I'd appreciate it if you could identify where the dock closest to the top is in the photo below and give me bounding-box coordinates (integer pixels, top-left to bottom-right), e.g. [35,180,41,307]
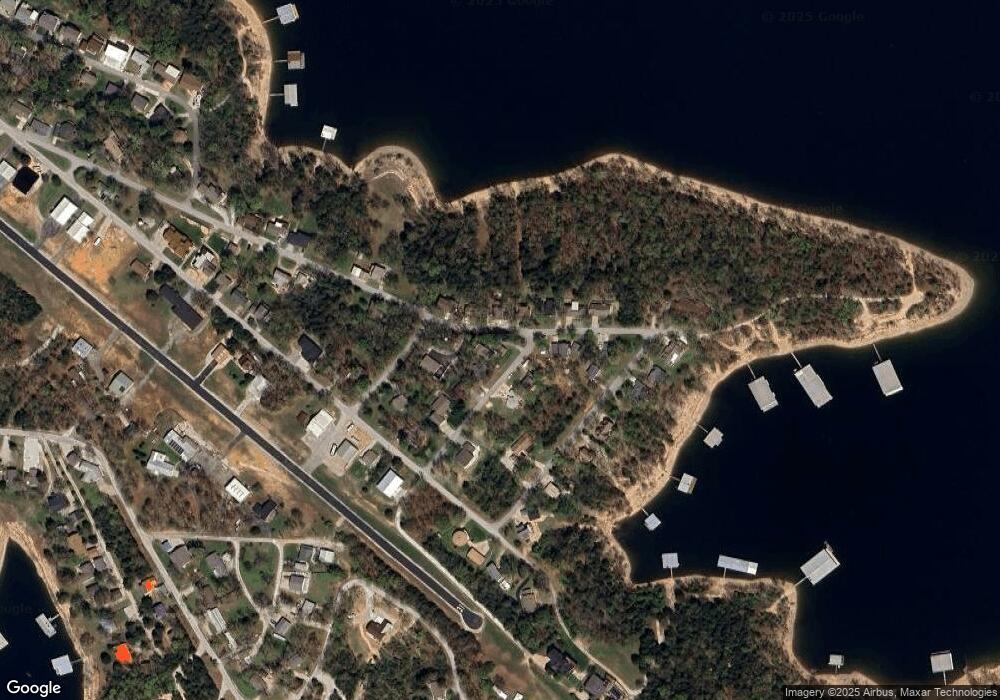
[262,4,298,24]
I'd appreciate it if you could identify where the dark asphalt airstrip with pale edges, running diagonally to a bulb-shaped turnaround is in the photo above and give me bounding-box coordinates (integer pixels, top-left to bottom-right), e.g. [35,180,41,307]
[0,220,482,630]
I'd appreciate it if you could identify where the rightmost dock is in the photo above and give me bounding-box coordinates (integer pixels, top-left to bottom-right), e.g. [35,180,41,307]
[931,650,953,687]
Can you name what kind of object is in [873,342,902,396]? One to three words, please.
pier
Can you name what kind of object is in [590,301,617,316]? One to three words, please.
house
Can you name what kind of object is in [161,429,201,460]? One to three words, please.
building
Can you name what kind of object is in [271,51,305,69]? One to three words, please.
pier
